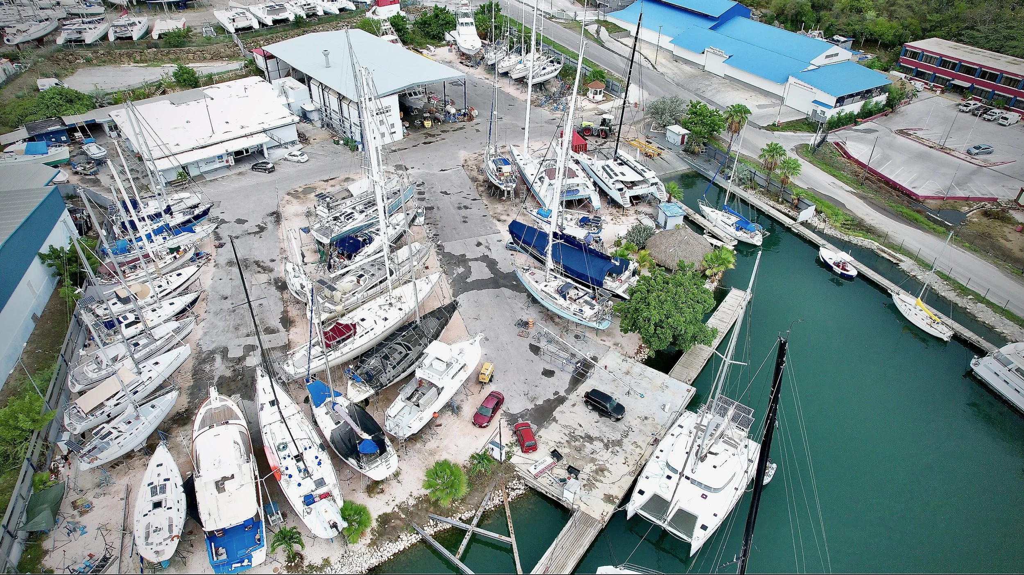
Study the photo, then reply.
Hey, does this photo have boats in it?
Yes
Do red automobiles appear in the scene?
Yes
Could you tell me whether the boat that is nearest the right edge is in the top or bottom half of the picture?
bottom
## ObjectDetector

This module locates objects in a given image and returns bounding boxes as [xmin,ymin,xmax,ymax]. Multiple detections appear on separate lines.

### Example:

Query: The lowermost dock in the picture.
[528,509,607,575]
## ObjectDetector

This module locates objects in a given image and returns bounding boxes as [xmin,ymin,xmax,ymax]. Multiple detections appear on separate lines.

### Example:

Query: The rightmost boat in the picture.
[970,357,1024,423]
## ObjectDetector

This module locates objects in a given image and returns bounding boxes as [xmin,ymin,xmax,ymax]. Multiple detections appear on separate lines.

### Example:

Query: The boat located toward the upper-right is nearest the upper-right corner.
[832,31,850,46]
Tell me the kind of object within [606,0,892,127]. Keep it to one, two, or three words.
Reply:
building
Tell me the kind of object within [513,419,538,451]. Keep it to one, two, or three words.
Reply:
car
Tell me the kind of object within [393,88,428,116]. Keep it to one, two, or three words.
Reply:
boat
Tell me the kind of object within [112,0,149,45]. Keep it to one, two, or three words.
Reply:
boat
